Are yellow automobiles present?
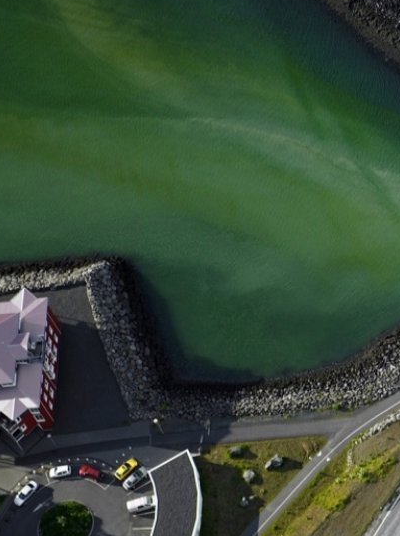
Yes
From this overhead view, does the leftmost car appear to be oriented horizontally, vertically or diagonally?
diagonally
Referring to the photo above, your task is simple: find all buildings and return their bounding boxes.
[0,291,54,464]
[147,449,202,536]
